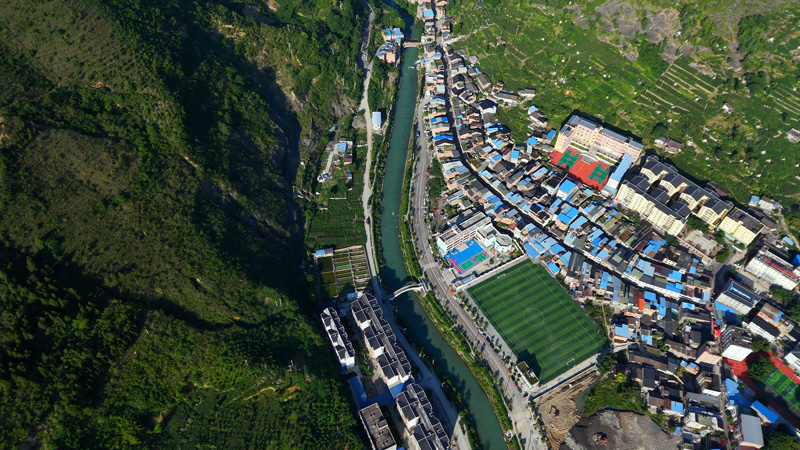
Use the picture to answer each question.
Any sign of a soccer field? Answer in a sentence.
Yes, there is a soccer field in the image.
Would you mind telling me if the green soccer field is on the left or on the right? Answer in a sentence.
The green soccer field appears in the right half of the scene.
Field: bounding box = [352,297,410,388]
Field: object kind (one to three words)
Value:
building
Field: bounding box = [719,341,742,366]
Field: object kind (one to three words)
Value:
building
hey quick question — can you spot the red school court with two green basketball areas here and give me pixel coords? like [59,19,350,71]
[550,147,611,190]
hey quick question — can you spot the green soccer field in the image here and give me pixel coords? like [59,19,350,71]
[466,259,605,390]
